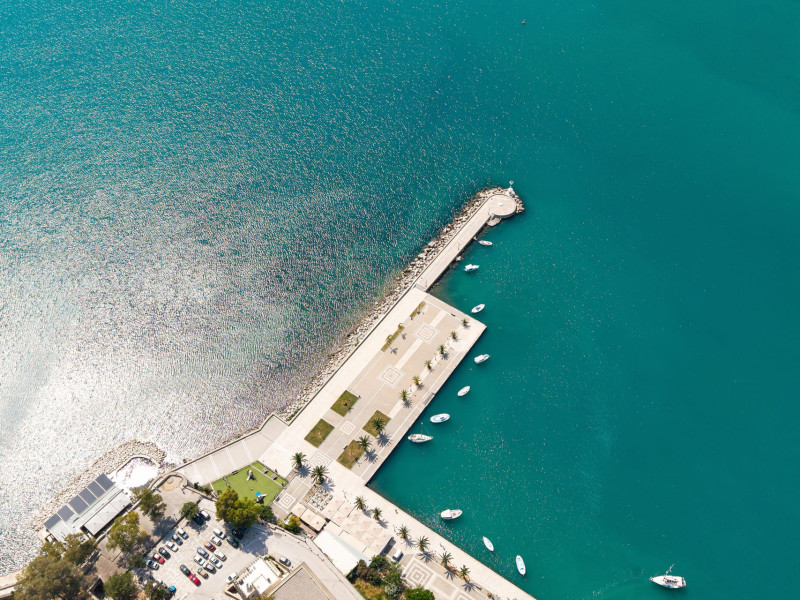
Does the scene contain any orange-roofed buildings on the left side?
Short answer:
No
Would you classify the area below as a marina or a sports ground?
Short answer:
marina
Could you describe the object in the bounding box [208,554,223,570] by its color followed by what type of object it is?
white car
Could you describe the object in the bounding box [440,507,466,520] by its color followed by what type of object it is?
white boat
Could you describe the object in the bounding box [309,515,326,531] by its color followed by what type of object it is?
white umbrella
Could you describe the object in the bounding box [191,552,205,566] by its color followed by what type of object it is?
white vehicle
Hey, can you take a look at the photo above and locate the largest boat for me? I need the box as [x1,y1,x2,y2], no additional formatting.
[649,570,688,588]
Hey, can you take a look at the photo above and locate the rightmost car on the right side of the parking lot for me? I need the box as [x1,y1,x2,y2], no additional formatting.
[390,546,405,562]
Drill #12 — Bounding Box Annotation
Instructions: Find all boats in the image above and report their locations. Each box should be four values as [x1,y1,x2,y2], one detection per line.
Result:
[408,425,433,441]
[512,548,527,577]
[473,352,493,362]
[464,262,480,271]
[471,303,486,312]
[457,385,472,395]
[483,536,495,552]
[440,507,466,520]
[649,570,688,588]
[430,412,454,421]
